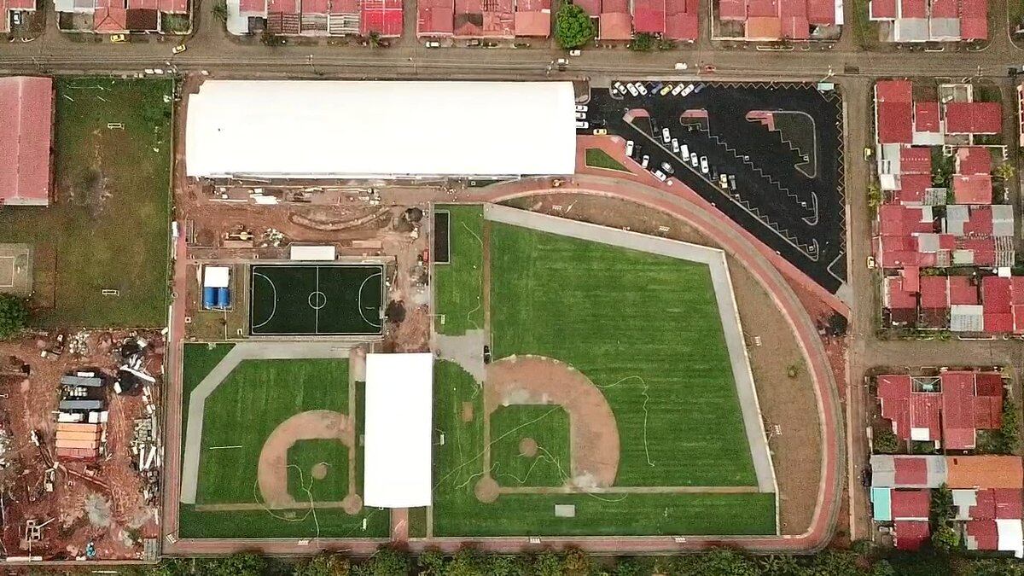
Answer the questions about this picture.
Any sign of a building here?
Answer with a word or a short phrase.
Yes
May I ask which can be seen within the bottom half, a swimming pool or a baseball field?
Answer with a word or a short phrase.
baseball field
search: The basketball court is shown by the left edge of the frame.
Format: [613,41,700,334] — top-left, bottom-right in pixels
[0,244,32,295]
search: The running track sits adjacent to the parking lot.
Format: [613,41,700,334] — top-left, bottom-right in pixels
[162,175,845,555]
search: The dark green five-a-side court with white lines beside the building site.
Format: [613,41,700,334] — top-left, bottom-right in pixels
[239,259,389,341]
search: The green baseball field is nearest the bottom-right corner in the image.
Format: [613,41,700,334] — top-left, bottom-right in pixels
[433,202,780,538]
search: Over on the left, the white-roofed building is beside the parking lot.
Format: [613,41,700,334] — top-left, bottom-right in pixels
[186,81,576,181]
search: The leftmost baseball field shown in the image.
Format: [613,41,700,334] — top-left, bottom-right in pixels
[178,341,390,539]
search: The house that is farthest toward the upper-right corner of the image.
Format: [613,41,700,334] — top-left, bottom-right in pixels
[958,0,988,41]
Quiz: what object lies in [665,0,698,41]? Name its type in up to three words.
house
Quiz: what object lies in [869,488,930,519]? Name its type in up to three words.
house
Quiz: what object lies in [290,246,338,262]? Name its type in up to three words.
building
